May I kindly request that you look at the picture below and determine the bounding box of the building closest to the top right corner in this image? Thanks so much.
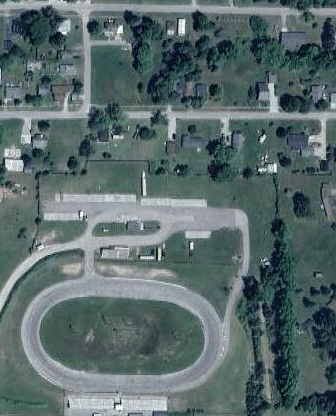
[280,30,309,50]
